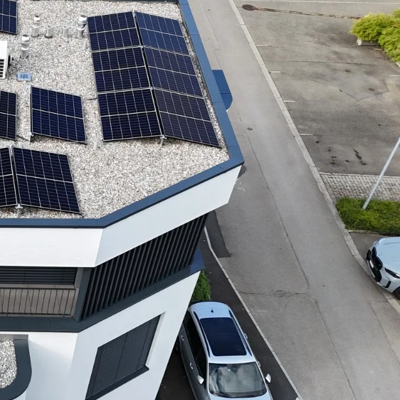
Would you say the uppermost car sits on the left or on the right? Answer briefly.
right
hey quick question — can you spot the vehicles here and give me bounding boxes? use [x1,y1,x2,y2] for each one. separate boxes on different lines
[361,236,400,295]
[175,302,270,400]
